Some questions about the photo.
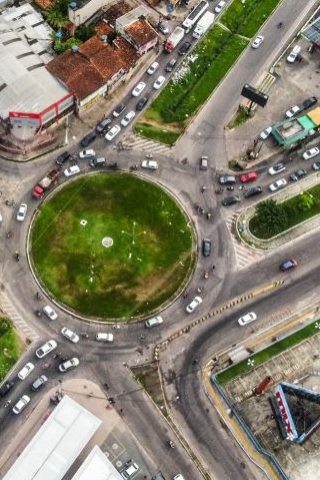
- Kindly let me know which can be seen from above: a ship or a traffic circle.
traffic circle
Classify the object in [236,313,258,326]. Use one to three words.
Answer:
vehicle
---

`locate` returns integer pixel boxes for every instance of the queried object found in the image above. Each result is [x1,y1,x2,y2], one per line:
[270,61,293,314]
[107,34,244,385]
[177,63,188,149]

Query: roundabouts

[30,172,196,323]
